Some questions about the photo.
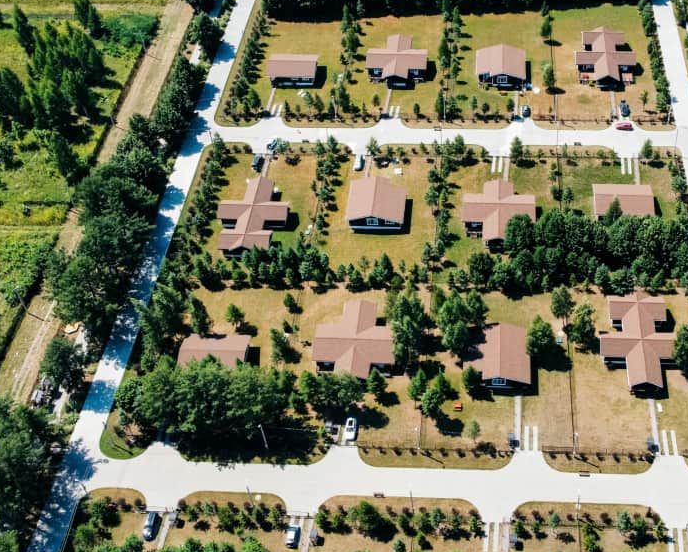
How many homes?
12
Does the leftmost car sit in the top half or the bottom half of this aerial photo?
bottom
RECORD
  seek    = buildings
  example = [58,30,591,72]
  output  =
[215,177,289,259]
[462,177,536,249]
[344,176,408,235]
[462,322,533,396]
[577,28,635,91]
[601,293,681,401]
[592,184,655,223]
[312,299,396,393]
[475,43,526,90]
[176,330,253,383]
[265,55,320,89]
[366,33,429,89]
